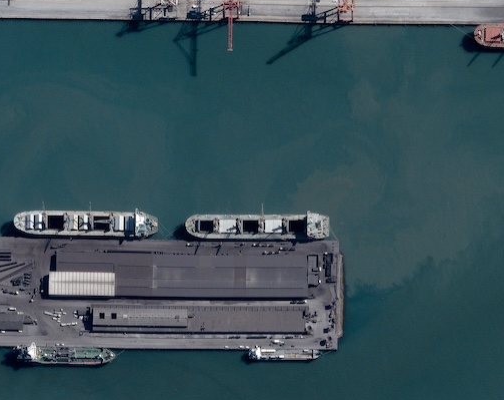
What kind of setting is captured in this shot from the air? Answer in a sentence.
The picture captures a port.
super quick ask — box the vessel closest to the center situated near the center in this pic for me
[173,202,338,242]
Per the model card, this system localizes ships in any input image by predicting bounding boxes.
[2,202,168,238]
[473,23,504,50]
[242,346,329,360]
[7,344,123,365]
[173,202,338,242]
